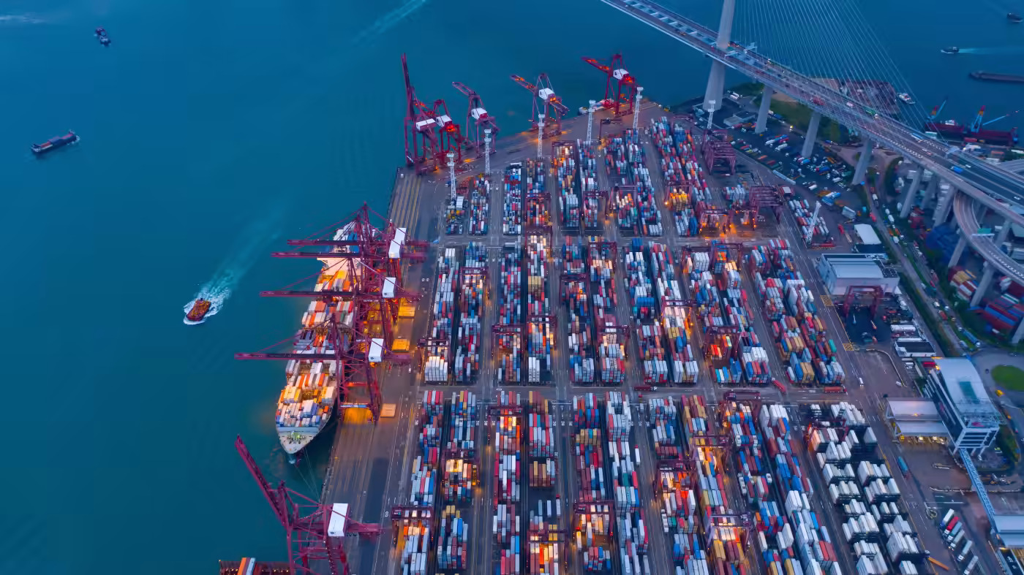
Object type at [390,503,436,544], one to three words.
container crane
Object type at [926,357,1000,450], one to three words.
building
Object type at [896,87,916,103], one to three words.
vessel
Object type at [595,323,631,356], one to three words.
container crane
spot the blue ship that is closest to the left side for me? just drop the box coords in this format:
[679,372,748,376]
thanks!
[30,127,81,151]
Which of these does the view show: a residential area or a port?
port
